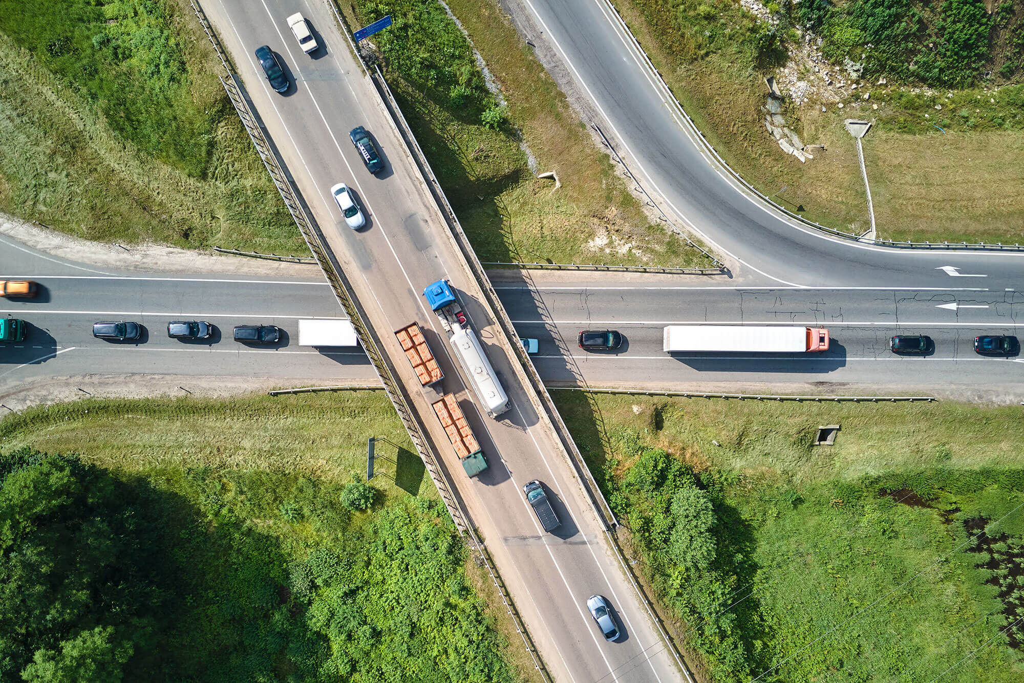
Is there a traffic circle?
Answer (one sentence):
No, this view has no traffic circle in it.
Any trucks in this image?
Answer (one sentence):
Yes, a truck appears in the view.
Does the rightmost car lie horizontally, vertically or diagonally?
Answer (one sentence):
Seen from above, the rightmost car lies horizontally.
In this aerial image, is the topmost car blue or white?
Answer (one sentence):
The color of the topmost car is white.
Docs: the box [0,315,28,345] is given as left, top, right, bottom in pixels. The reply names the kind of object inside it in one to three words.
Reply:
truck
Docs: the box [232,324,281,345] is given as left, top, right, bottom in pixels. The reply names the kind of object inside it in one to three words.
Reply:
vehicle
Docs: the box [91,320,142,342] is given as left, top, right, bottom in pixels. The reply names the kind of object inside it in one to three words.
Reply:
car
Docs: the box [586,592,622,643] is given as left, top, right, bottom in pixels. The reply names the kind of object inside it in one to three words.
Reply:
car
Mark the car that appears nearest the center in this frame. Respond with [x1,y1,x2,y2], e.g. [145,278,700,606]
[520,336,538,353]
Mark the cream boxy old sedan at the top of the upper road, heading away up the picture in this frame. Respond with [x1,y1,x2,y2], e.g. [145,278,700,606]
[287,12,320,57]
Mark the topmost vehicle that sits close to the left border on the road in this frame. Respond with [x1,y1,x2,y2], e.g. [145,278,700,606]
[0,278,39,299]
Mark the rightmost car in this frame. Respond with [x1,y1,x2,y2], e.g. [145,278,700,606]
[971,334,1018,355]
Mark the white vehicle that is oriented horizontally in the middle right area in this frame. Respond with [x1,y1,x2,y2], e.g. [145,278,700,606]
[661,325,828,355]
